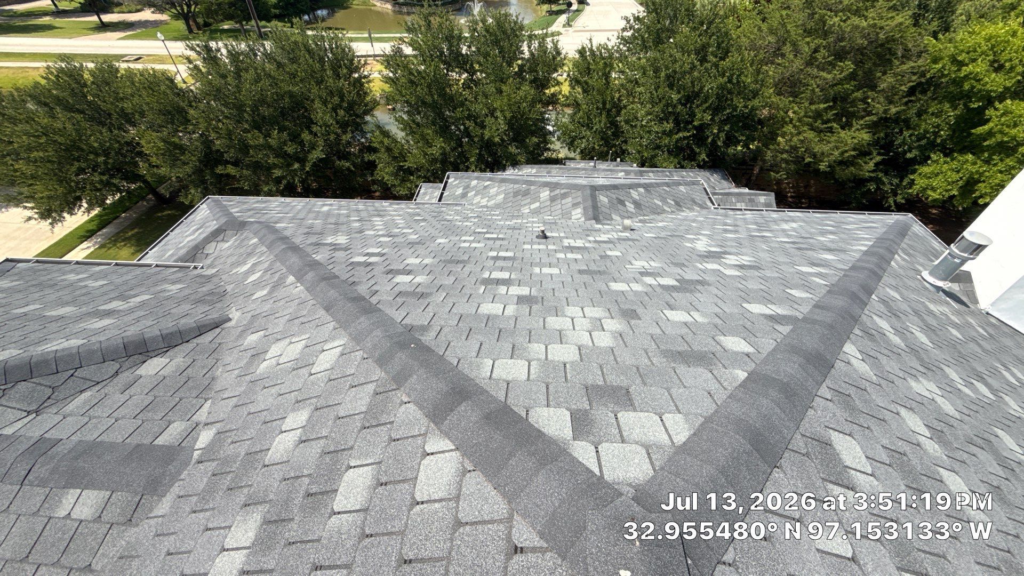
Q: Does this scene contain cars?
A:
No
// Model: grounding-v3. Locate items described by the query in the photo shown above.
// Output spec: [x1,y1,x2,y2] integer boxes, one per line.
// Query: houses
[0,148,1024,576]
